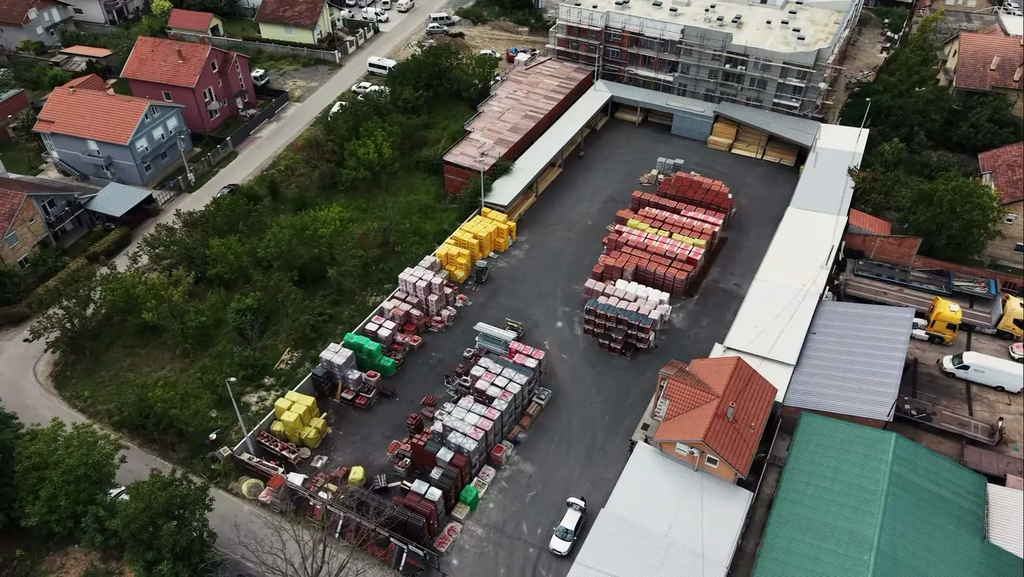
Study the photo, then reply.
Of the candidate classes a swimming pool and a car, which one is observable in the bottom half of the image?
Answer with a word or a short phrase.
car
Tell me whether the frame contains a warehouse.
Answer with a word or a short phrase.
Yes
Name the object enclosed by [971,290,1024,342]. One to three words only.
truck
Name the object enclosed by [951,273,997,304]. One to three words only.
trailer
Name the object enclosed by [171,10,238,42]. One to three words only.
house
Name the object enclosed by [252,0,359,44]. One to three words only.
house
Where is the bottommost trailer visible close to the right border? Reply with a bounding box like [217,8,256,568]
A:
[895,395,1005,446]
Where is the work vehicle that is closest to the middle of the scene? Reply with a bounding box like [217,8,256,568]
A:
[466,260,492,292]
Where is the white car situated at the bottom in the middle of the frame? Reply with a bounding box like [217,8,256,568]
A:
[549,488,588,557]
